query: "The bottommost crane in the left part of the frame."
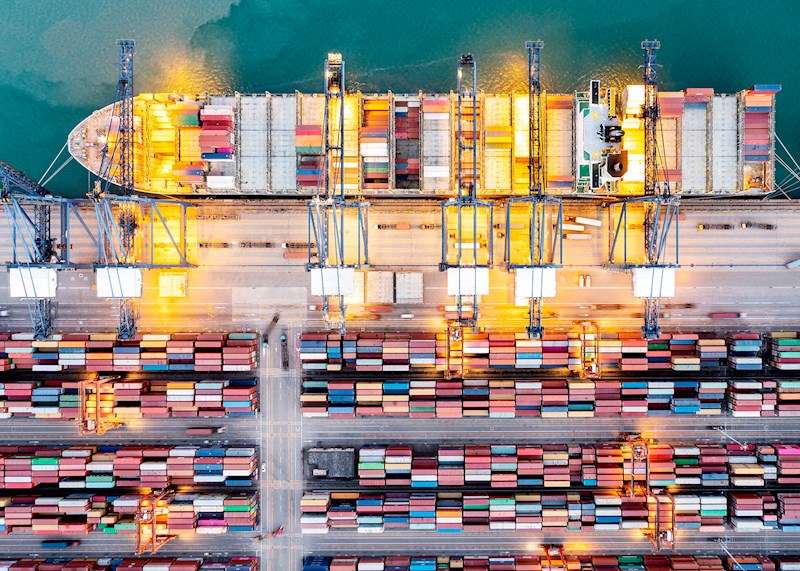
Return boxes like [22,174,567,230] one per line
[135,484,179,553]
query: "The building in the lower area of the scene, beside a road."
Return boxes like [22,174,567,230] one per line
[305,449,352,480]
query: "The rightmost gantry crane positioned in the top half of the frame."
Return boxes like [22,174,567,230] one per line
[595,40,683,336]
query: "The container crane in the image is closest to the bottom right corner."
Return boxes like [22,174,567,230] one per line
[641,484,677,553]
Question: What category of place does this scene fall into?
port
